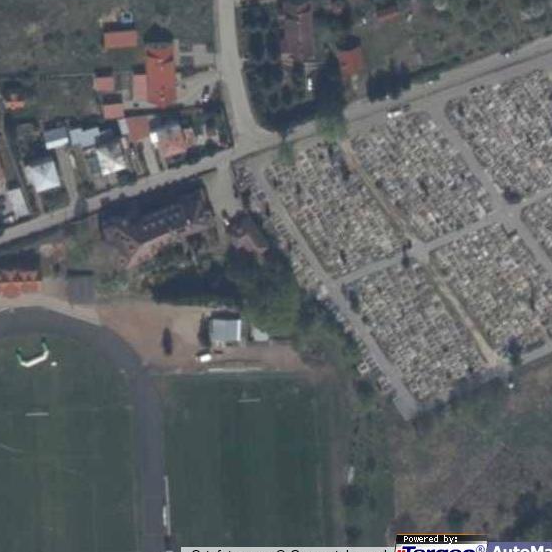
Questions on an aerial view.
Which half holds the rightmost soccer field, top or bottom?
bottom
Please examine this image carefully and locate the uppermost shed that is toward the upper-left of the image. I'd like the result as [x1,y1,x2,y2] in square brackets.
[103,30,136,48]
